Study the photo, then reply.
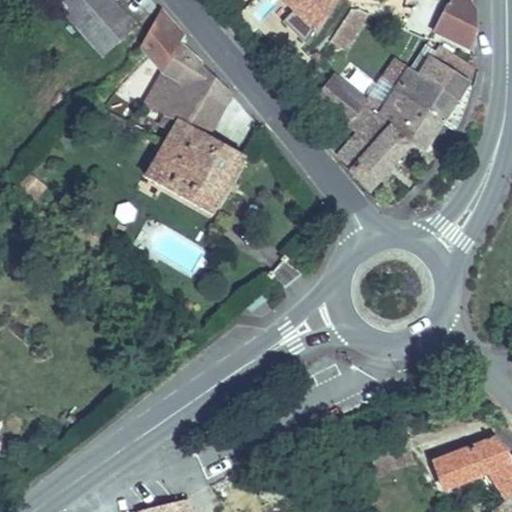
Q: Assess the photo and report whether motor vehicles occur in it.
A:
Yes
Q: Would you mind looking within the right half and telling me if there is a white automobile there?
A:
Yes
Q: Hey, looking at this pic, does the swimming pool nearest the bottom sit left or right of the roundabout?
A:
left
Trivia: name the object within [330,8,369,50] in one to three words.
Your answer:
shed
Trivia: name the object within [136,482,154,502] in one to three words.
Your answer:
car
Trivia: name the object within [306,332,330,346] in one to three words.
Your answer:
vehicle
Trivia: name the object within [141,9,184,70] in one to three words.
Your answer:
house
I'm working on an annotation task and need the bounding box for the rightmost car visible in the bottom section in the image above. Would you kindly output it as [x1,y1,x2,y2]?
[410,318,431,334]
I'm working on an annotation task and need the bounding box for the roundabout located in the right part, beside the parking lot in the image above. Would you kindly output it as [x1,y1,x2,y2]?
[330,228,456,354]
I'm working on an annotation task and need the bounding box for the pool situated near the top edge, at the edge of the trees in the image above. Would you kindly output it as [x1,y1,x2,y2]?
[248,0,282,24]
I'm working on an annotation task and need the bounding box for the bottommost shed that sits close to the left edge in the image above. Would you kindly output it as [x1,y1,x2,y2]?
[22,174,48,198]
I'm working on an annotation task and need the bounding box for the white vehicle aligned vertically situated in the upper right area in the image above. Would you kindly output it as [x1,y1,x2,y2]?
[480,32,492,56]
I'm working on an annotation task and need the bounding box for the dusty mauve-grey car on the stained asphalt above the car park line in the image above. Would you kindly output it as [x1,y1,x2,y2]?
[335,347,356,366]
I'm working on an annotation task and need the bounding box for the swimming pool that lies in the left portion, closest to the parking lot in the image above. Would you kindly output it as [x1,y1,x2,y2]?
[134,220,208,278]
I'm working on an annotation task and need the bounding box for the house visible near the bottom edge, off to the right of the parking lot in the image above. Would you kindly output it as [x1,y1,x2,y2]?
[432,436,512,512]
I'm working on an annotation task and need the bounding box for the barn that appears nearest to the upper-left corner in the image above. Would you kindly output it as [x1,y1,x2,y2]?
[63,0,137,60]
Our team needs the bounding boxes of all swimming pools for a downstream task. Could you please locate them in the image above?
[248,0,282,24]
[134,220,208,278]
